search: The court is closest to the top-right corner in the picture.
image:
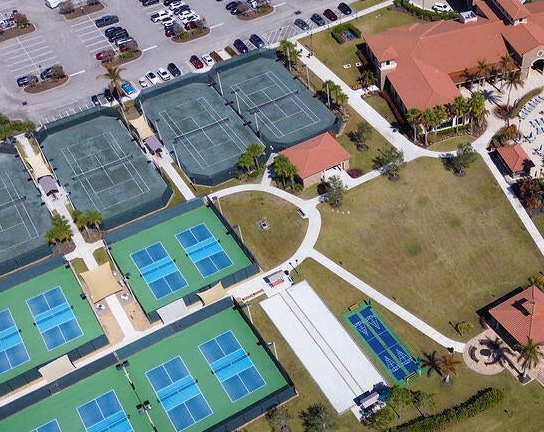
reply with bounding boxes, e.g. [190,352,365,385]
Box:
[214,59,337,149]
